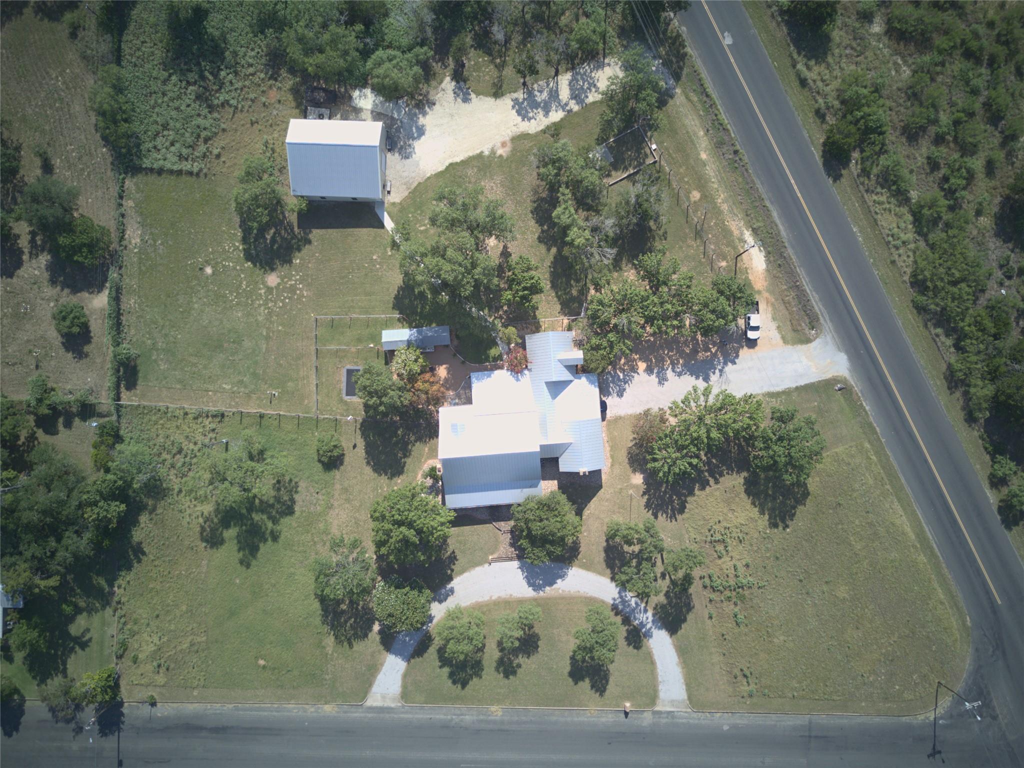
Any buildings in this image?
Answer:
Yes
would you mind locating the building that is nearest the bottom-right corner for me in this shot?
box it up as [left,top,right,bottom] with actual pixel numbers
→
[439,332,605,509]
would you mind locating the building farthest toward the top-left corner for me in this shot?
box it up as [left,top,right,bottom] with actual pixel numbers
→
[286,119,386,203]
